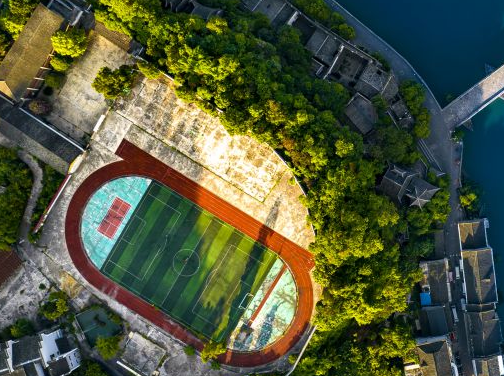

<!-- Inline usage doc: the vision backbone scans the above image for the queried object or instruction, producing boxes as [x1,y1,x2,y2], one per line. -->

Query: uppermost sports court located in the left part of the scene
[98,196,131,239]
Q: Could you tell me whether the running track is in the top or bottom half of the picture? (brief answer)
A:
bottom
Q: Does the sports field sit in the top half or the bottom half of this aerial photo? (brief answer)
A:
bottom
